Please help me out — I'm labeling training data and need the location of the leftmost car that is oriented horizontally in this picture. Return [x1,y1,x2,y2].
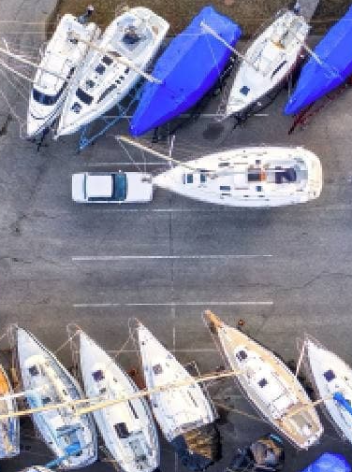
[71,168,157,206]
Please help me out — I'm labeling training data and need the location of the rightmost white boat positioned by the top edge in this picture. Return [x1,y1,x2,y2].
[198,11,308,118]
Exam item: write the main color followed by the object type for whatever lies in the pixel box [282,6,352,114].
blue boat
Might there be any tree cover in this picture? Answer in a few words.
No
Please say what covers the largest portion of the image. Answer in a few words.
paved ground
